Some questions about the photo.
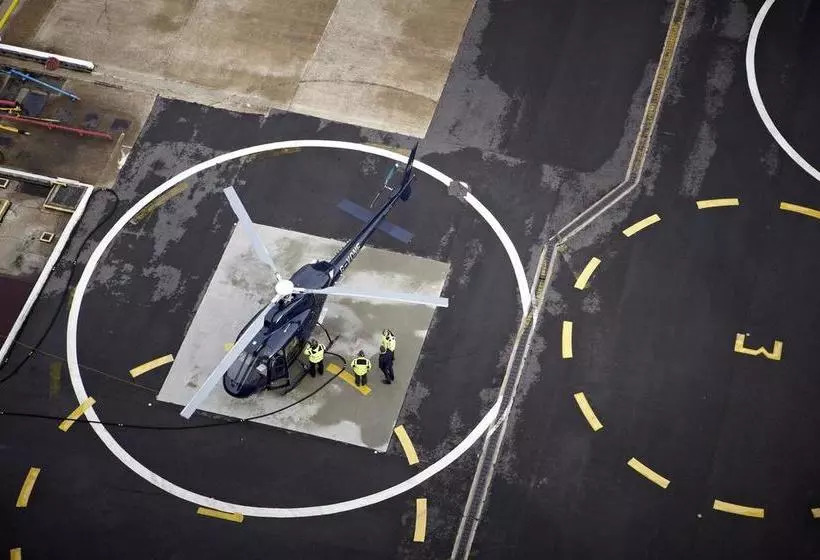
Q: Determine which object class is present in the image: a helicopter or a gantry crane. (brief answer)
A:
helicopter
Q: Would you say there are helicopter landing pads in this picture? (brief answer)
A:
Yes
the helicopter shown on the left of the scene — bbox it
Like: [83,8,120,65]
[183,145,448,416]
